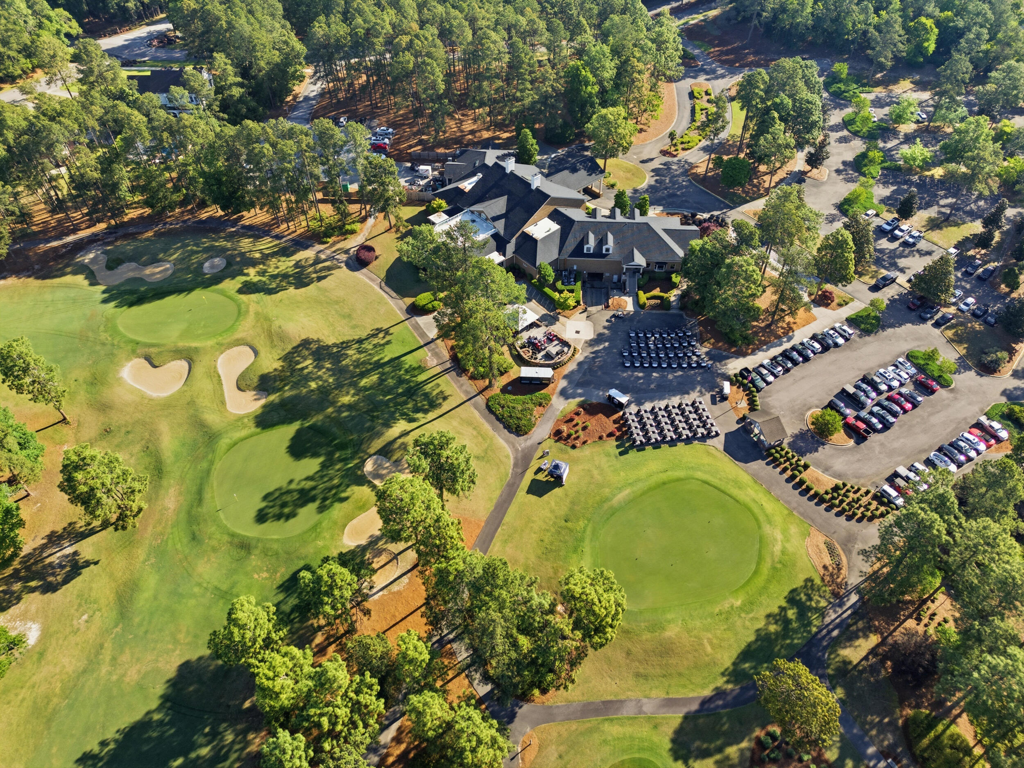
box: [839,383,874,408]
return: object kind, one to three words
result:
truck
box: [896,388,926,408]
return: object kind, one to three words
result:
car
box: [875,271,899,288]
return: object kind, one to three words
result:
vehicle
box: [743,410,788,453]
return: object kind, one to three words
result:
shed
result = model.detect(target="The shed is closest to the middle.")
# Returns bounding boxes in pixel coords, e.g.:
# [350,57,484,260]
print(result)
[520,367,554,387]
